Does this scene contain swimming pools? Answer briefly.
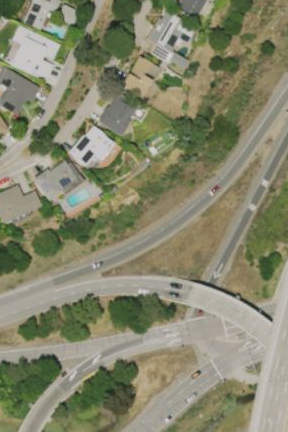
Yes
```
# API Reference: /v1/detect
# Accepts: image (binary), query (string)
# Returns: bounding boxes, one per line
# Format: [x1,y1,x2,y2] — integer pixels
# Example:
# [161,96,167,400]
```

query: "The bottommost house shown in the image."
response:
[0,184,42,224]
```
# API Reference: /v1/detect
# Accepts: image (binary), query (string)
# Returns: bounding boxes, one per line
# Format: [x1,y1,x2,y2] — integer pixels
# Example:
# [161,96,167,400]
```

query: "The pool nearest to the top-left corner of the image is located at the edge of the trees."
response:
[46,23,66,40]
